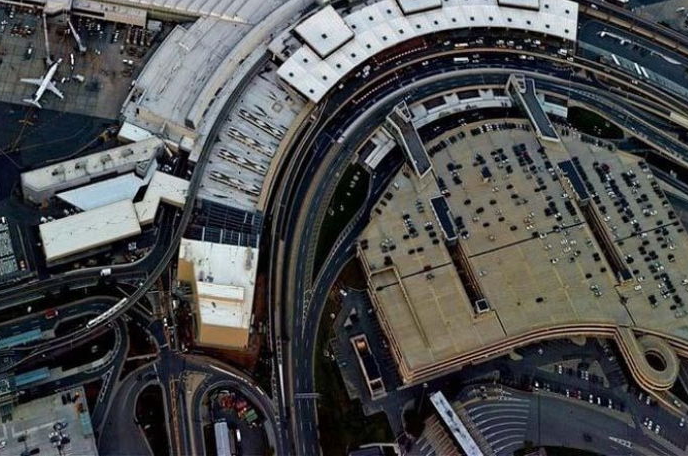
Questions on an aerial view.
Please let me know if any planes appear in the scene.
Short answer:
Yes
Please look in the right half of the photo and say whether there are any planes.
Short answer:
No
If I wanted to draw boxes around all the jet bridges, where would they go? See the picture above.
[41,10,55,65]
[65,10,89,53]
